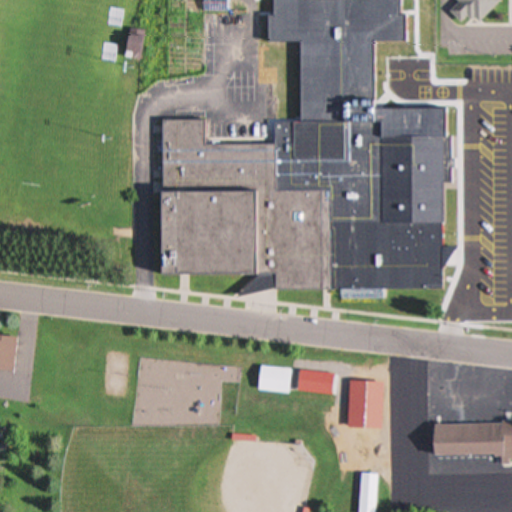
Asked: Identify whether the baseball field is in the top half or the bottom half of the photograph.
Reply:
bottom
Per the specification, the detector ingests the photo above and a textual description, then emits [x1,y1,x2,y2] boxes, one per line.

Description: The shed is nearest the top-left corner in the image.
[125,29,146,60]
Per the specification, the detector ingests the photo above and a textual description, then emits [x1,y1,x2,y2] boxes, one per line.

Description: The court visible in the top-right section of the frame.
[390,59,464,99]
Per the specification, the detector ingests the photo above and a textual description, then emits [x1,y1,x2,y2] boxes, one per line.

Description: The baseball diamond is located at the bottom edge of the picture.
[222,440,316,512]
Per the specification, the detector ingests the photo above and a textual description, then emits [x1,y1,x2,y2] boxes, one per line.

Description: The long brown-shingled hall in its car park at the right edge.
[433,416,512,468]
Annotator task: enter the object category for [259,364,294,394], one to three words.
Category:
shed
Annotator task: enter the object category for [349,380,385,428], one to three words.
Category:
barn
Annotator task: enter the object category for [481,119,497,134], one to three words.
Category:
vehicle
